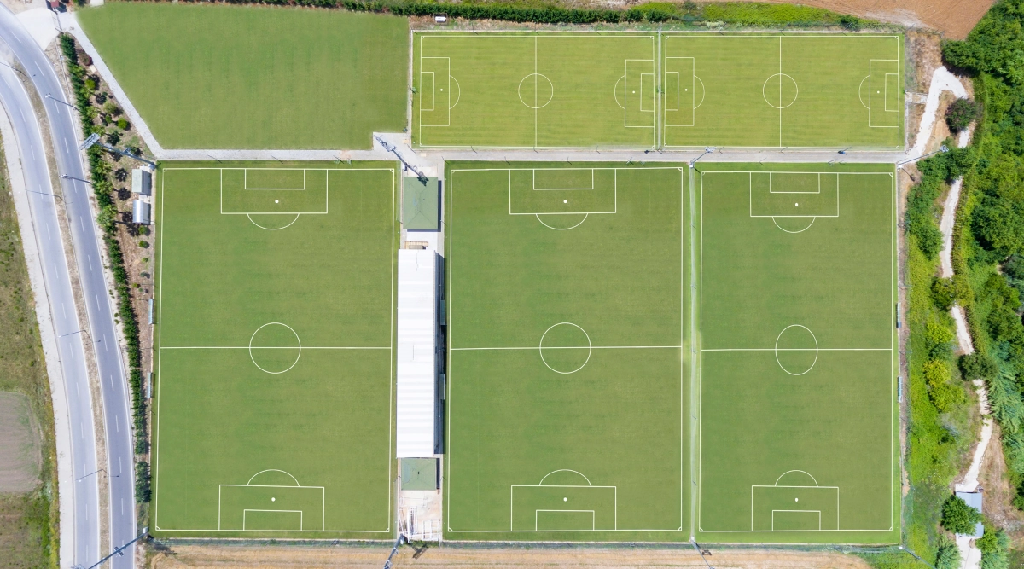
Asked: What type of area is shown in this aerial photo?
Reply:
sports ground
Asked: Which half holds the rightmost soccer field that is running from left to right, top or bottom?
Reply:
top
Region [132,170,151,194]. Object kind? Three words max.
shed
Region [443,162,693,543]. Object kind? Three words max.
soccer field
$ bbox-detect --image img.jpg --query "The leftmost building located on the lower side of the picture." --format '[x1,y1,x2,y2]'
[401,456,436,490]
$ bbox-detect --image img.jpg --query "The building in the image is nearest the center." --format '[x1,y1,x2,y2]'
[404,176,438,230]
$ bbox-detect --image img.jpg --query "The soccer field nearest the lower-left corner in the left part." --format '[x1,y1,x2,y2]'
[149,161,401,540]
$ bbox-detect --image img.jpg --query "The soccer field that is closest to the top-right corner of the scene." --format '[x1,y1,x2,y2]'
[661,32,905,150]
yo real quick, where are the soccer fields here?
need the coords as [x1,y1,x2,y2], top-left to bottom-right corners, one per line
[661,32,905,150]
[443,162,693,543]
[693,163,902,544]
[413,32,658,148]
[149,161,401,540]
